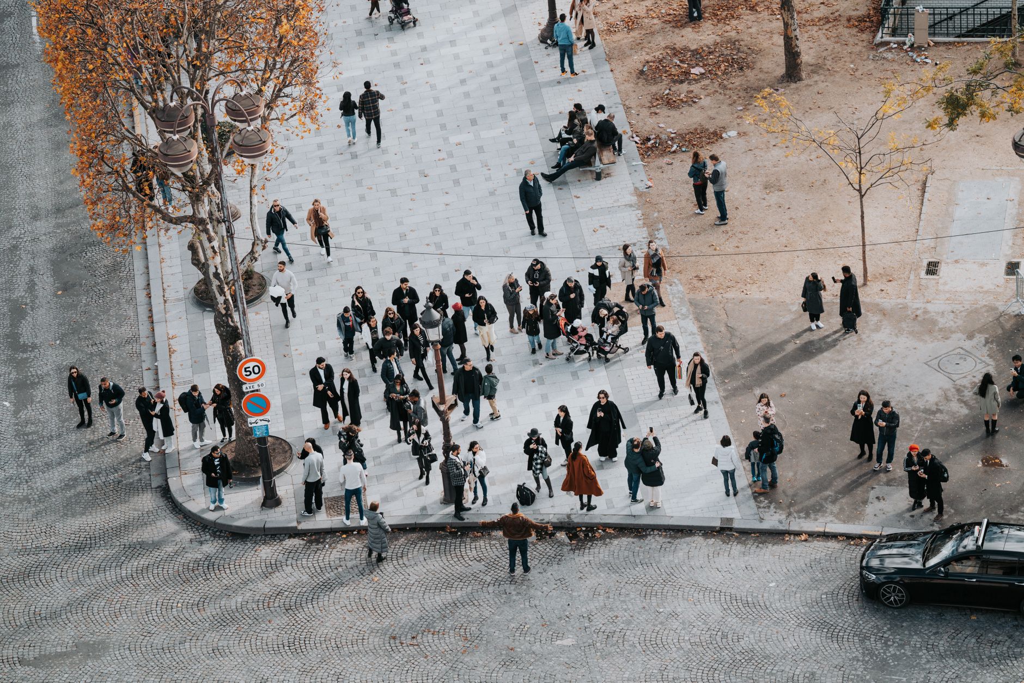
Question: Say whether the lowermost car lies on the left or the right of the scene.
right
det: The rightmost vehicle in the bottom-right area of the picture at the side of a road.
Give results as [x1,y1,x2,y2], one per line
[856,510,1024,609]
